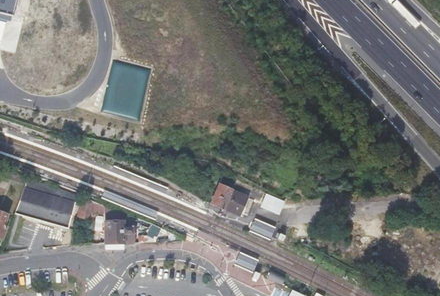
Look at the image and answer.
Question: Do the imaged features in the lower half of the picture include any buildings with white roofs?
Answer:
Yes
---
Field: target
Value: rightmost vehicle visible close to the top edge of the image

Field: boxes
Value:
[388,0,420,28]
